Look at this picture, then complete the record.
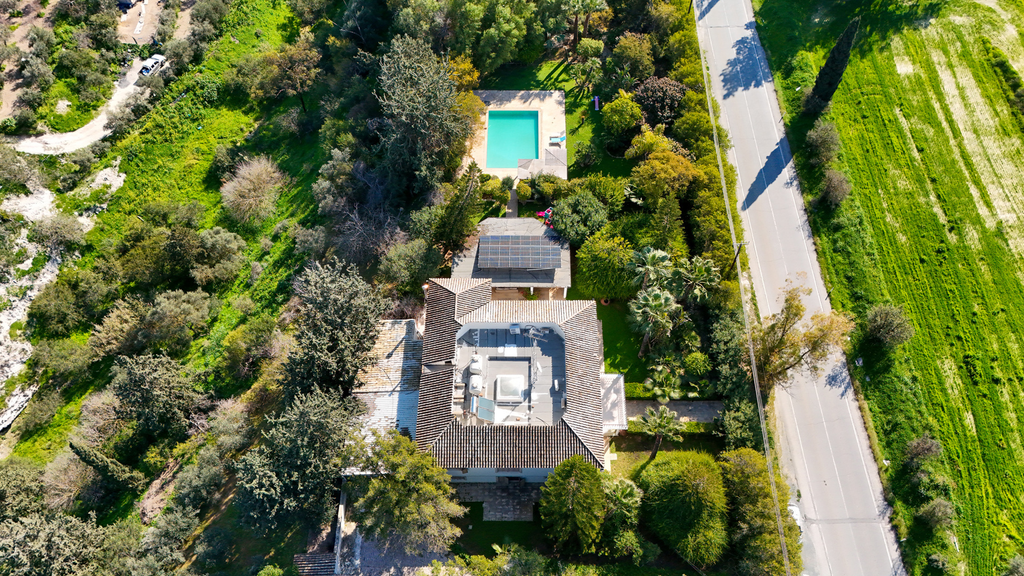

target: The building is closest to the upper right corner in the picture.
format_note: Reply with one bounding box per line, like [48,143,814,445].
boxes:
[518,149,568,190]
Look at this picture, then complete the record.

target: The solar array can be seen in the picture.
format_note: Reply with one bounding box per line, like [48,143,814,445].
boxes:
[478,235,562,272]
